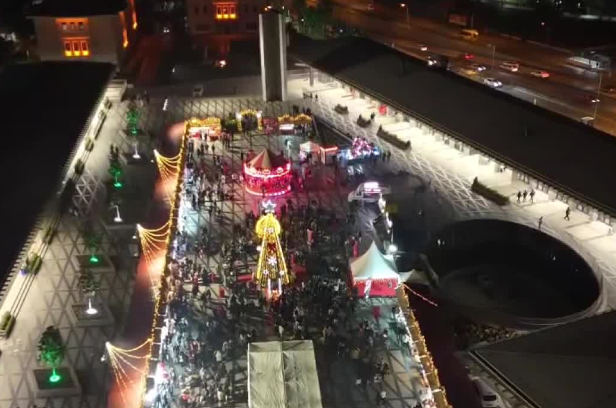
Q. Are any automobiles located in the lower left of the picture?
No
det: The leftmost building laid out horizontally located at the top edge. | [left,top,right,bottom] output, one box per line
[22,0,162,64]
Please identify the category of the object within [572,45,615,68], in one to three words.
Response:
bus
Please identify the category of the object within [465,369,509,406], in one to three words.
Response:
car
